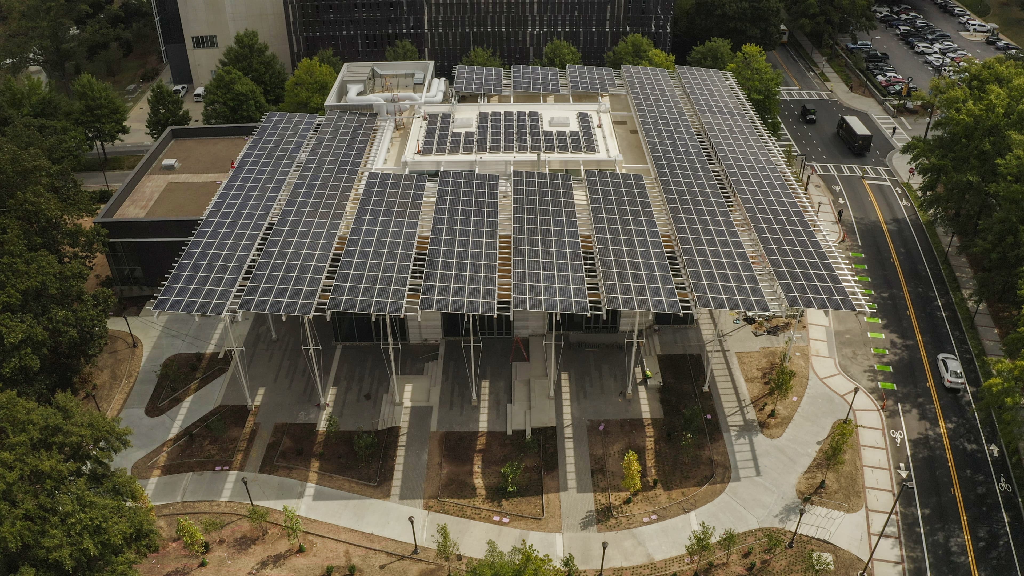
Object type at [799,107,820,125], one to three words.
car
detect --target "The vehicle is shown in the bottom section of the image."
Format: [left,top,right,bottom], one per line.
[935,353,968,391]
